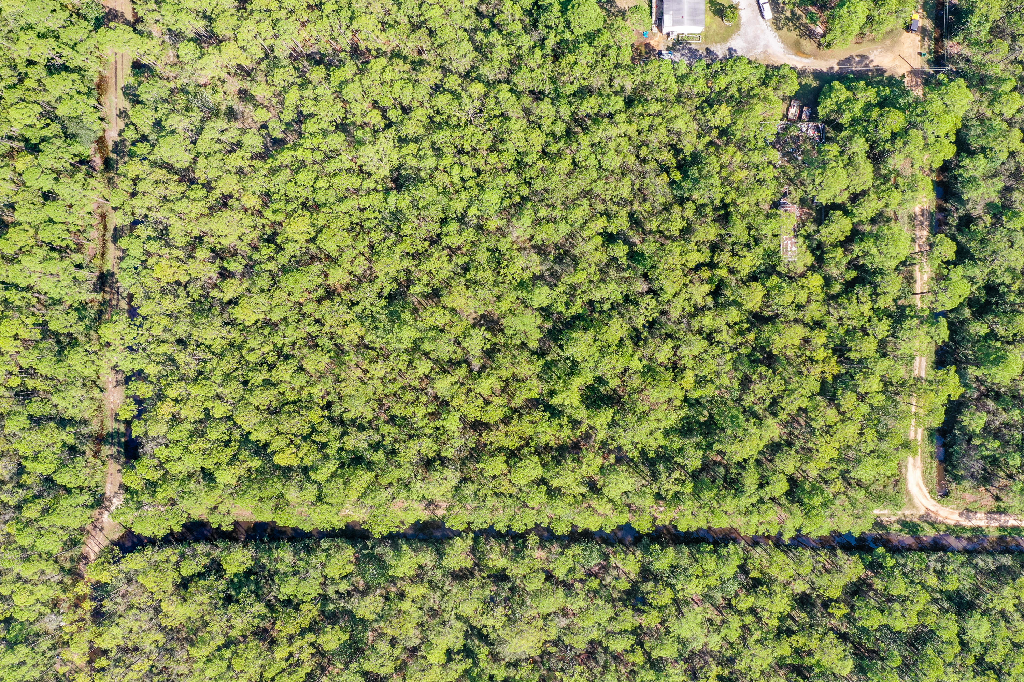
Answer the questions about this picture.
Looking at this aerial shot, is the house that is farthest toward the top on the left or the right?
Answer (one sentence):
The house that is farthest toward the top is on the right side of the image.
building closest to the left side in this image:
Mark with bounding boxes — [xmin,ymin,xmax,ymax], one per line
[661,0,705,31]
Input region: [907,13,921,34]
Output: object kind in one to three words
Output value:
vehicle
